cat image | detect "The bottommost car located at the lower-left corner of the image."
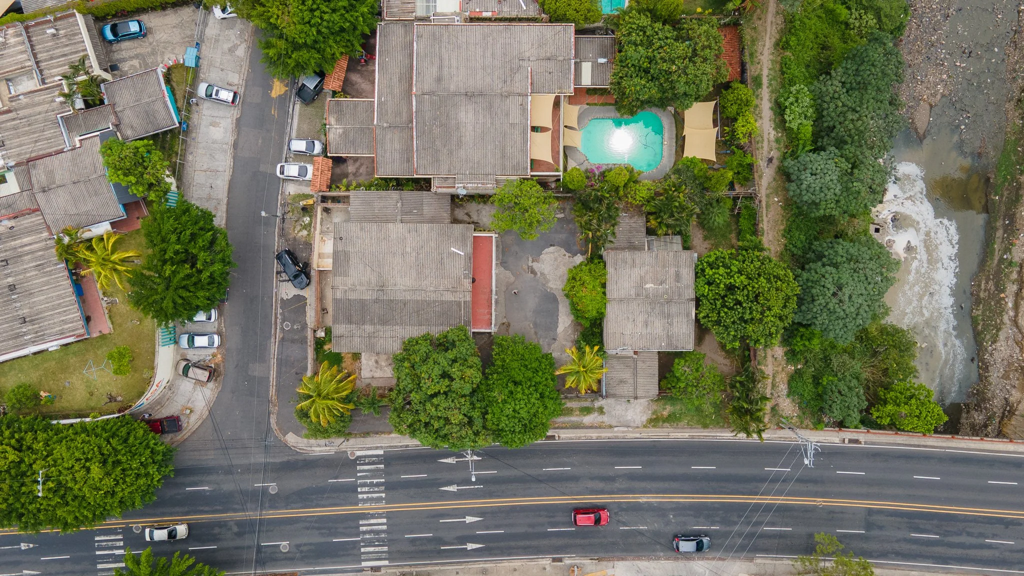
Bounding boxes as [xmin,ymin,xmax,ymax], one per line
[146,521,190,542]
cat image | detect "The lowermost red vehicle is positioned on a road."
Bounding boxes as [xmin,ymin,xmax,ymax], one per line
[572,506,608,527]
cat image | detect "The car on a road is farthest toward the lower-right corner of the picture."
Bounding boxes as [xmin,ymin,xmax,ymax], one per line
[673,532,709,553]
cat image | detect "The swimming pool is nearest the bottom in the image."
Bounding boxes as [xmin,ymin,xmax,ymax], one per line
[565,106,676,178]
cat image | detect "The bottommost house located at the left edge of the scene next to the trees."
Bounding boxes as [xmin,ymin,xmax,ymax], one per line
[0,209,96,363]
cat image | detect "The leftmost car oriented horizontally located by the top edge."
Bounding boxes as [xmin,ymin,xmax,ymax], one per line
[104,20,149,42]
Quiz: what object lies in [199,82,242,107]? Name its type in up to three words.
car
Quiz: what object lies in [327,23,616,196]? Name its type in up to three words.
house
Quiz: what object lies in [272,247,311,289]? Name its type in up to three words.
car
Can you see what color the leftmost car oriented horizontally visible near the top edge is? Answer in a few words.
blue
